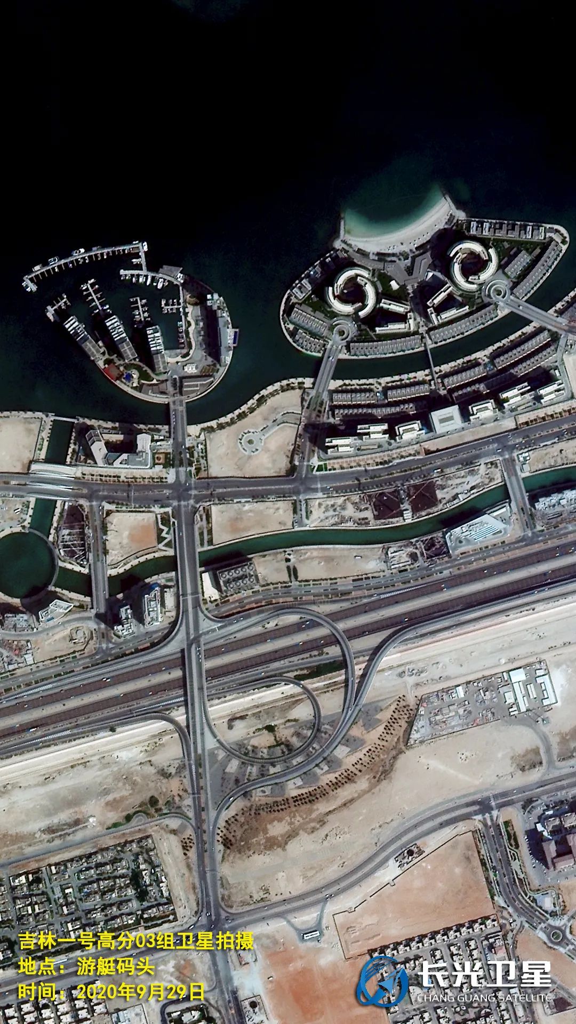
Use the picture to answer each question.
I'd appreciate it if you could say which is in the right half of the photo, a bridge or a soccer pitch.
bridge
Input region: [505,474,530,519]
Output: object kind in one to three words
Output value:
bridge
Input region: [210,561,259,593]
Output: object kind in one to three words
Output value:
building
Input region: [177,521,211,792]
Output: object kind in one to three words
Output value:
bridge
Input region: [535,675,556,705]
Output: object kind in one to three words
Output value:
shed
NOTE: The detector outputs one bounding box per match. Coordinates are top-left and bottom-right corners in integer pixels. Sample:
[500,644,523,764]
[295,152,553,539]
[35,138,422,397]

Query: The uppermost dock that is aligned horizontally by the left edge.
[23,242,148,292]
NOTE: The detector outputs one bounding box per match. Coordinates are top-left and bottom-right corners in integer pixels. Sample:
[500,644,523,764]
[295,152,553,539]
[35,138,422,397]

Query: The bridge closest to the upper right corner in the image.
[501,290,571,335]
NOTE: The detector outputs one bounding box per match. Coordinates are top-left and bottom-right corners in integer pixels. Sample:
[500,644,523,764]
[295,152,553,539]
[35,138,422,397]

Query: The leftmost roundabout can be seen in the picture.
[328,318,357,347]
